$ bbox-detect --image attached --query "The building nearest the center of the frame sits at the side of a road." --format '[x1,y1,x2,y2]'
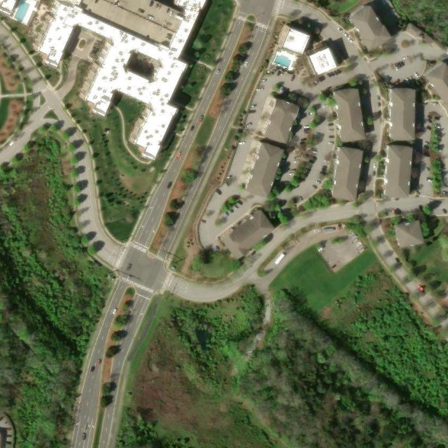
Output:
[220,210,274,260]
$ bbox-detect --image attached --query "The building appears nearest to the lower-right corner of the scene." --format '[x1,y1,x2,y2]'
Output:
[393,219,424,248]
